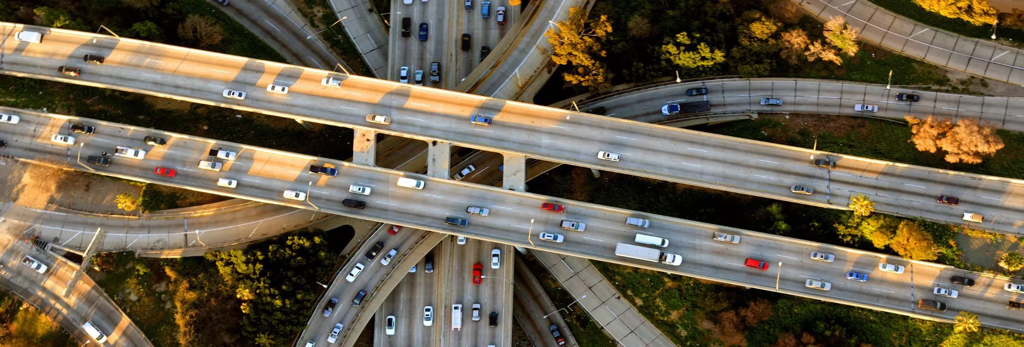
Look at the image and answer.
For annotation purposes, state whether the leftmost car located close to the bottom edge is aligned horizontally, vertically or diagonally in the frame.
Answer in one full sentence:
In this picture, the leftmost car located close to the bottom edge is oriented diagonally.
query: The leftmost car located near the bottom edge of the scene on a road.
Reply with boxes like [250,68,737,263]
[80,317,109,346]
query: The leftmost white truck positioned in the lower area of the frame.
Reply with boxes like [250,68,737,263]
[19,253,50,275]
